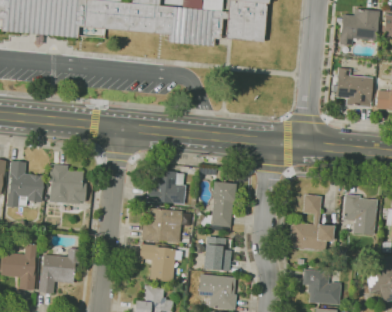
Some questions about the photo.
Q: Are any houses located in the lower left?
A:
Yes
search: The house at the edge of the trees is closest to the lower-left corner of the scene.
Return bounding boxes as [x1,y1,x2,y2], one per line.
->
[1,246,37,292]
